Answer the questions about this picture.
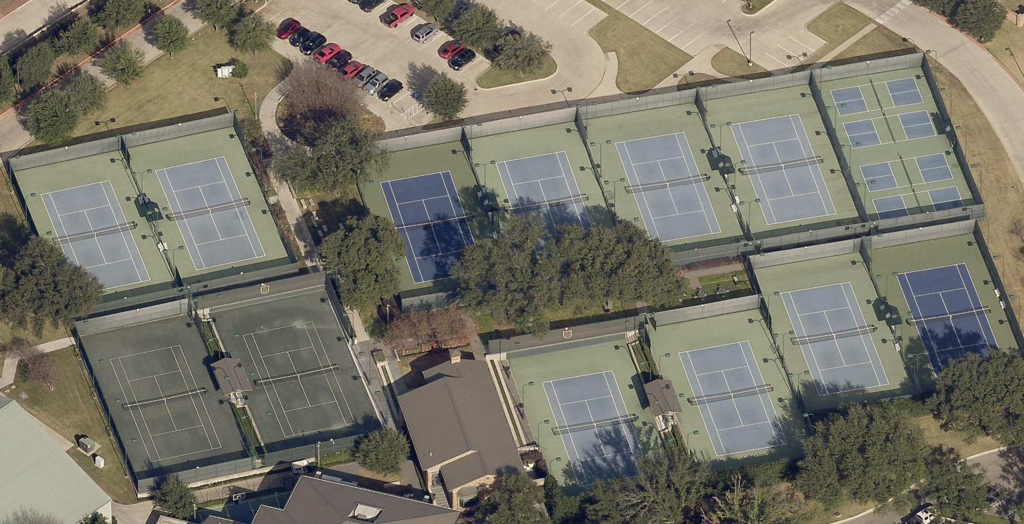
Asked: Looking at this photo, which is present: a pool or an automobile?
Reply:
automobile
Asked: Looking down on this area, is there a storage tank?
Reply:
No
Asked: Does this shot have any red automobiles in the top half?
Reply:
Yes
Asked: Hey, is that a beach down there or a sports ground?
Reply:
sports ground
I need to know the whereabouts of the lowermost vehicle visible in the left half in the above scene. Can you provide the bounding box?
[290,456,314,475]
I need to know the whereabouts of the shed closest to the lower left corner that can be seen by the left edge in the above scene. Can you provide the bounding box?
[0,393,112,524]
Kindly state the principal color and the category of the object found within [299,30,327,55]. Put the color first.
black car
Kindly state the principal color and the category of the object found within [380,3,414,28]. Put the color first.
red truck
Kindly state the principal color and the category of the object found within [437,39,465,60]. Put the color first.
red car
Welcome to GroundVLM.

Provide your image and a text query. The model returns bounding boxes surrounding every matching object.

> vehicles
[344,0,366,10]
[410,21,439,44]
[276,17,304,39]
[482,40,510,60]
[377,79,405,101]
[327,48,354,70]
[448,45,477,70]
[288,27,313,46]
[380,3,414,28]
[903,508,939,524]
[353,62,381,86]
[437,39,465,60]
[358,0,385,14]
[363,70,392,95]
[290,456,314,475]
[313,43,342,64]
[299,30,327,55]
[339,60,367,78]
